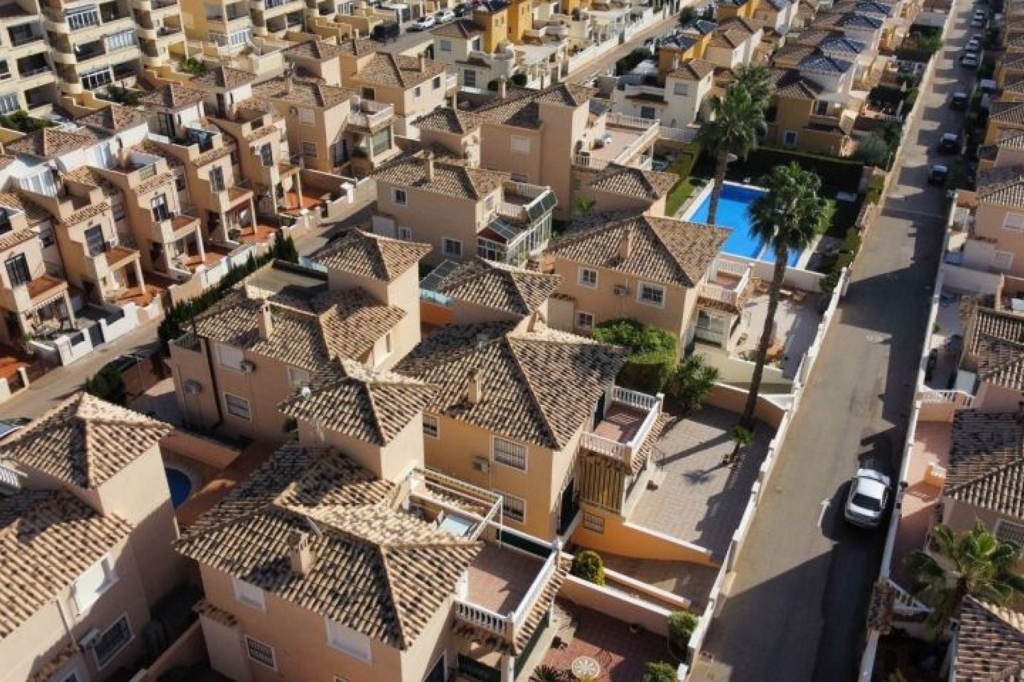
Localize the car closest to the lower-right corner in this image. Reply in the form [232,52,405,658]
[844,470,889,530]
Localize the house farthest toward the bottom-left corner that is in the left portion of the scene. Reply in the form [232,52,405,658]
[0,395,193,682]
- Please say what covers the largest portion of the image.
buildings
